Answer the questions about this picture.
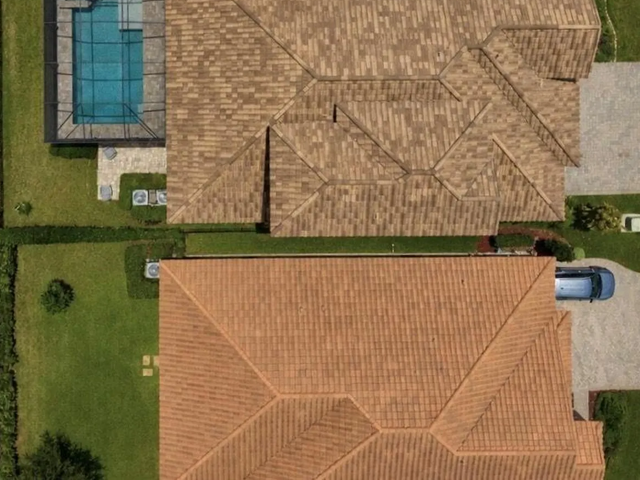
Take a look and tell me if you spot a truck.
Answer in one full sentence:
No, there appears to be no truck in this shot.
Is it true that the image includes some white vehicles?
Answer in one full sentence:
No, there appears to be no white vehicle in this shot.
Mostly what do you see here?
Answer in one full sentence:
What you mostly see from above here is buildings.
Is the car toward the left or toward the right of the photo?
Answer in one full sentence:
It is on the right.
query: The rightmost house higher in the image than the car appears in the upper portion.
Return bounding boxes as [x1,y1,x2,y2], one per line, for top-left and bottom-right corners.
[163,0,602,238]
